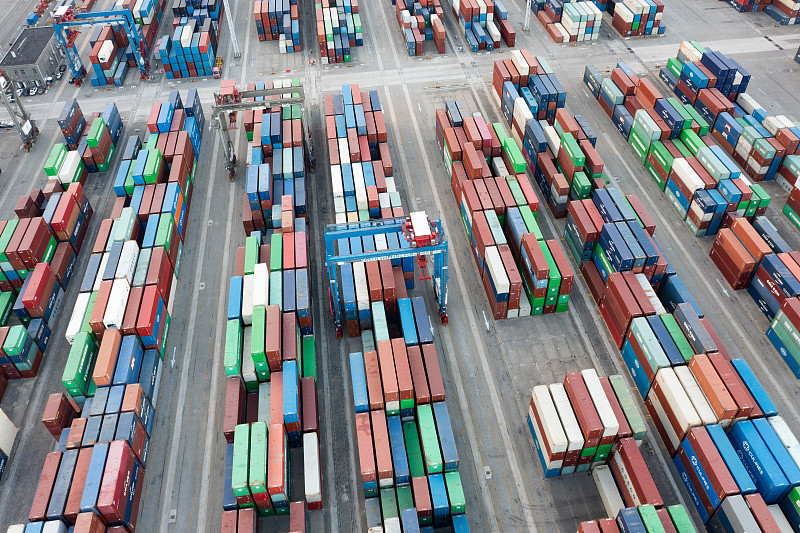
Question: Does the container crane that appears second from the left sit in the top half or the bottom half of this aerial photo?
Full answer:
The top half of the photo is where the container crane that appears second from the left is.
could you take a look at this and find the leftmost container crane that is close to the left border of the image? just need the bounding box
[0,64,38,152]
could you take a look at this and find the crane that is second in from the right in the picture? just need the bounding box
[211,81,316,183]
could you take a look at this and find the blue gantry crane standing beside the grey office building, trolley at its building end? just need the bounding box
[51,5,150,85]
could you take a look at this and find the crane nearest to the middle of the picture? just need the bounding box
[320,212,450,342]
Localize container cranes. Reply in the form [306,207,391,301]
[0,64,38,152]
[51,5,150,85]
[320,212,450,342]
[211,81,316,183]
